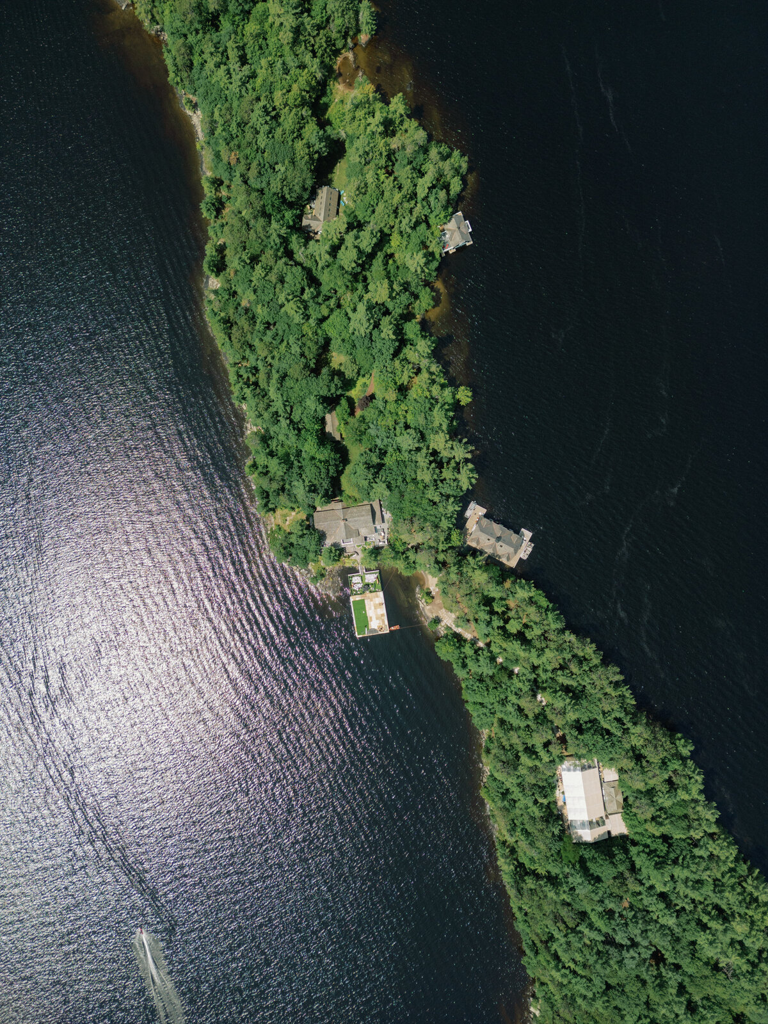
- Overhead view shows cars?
No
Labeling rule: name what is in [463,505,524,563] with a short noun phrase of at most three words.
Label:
building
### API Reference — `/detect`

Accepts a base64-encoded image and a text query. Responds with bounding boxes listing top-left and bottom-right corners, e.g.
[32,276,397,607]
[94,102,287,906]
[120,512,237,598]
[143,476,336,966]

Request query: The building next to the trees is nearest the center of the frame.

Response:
[310,499,392,553]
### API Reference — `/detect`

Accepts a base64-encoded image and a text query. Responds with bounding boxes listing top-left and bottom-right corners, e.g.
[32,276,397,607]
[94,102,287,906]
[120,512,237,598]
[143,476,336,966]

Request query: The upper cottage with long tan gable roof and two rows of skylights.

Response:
[302,186,339,238]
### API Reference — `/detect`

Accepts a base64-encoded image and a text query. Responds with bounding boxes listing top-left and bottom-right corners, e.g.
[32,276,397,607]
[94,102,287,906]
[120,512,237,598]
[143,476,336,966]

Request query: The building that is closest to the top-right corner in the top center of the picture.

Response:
[439,211,473,257]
